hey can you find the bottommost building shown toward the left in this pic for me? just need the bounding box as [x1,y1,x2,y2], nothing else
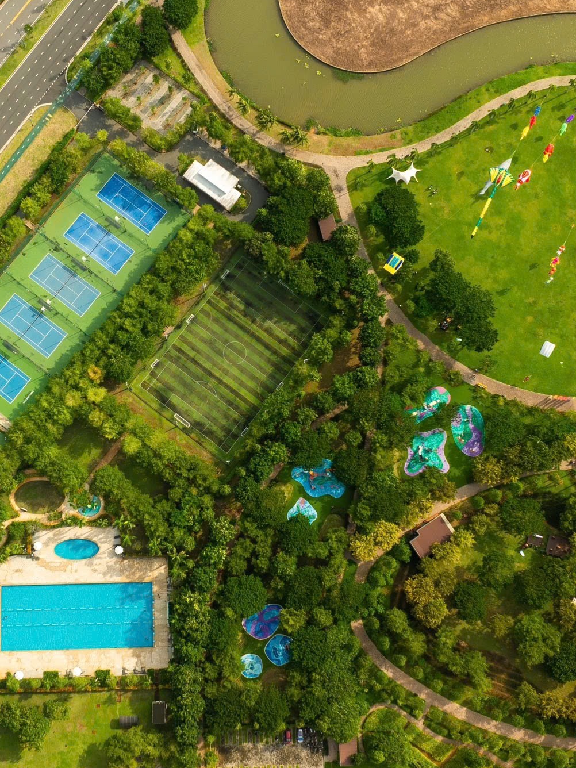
[152,699,167,724]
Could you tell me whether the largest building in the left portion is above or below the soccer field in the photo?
above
